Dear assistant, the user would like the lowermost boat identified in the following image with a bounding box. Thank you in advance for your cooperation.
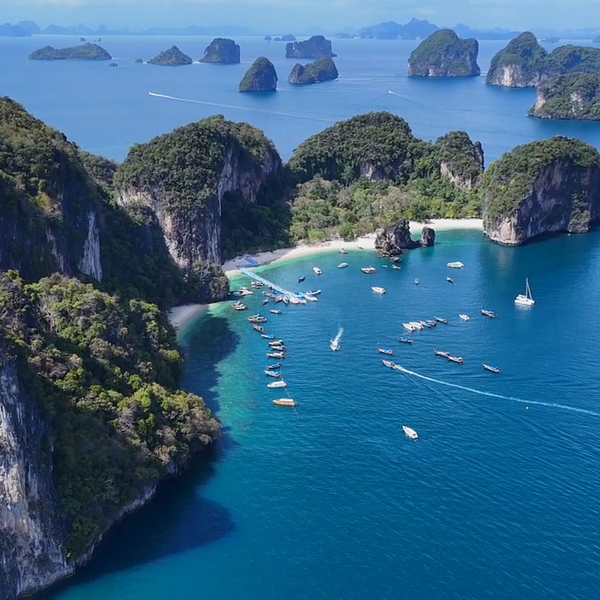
[404,424,419,439]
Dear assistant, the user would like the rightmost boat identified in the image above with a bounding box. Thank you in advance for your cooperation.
[516,283,535,305]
